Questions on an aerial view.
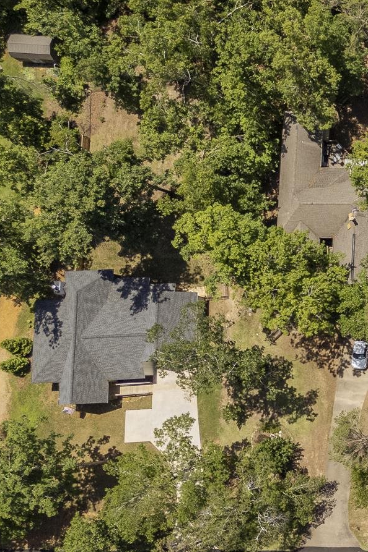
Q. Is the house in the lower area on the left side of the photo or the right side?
left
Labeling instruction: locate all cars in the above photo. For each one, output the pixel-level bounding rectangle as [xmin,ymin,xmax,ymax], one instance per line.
[352,340,367,372]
